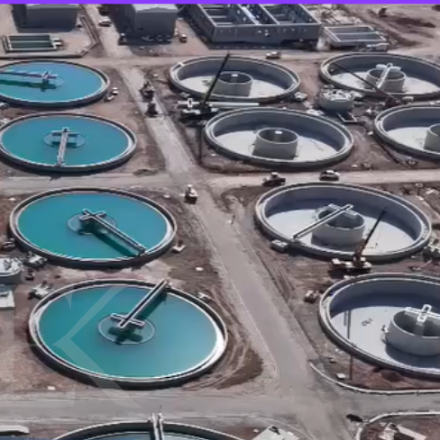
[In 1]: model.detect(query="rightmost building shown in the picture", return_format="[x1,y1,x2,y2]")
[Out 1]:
[124,0,181,39]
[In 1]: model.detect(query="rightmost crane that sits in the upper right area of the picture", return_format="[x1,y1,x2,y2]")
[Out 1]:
[332,60,410,108]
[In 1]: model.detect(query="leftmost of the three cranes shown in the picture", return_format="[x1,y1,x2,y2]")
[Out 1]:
[186,55,229,113]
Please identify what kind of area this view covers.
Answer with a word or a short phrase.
industrial area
